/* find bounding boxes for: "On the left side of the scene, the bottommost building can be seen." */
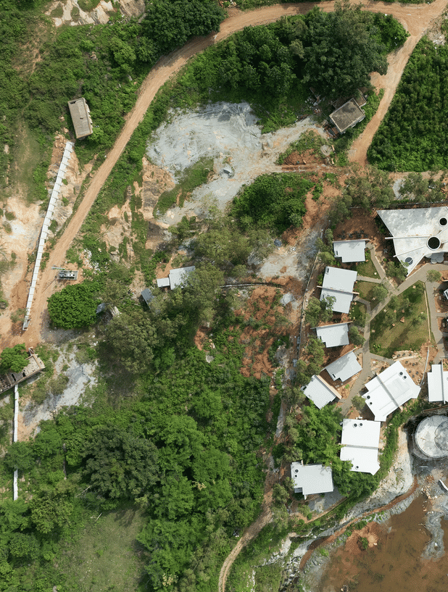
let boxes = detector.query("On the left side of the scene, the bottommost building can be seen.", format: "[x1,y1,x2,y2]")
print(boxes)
[0,346,51,393]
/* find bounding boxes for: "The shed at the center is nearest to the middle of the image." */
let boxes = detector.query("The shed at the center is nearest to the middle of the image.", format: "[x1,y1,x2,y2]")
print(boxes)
[157,266,196,290]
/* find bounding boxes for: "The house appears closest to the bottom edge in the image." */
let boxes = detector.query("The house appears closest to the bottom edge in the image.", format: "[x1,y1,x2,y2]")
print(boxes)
[291,457,334,499]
